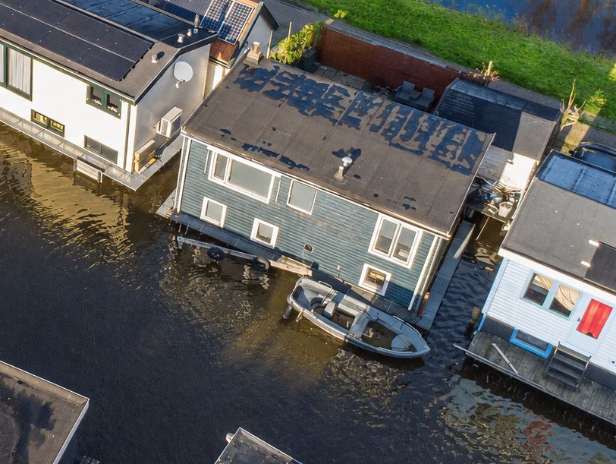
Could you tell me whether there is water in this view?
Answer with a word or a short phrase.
Yes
